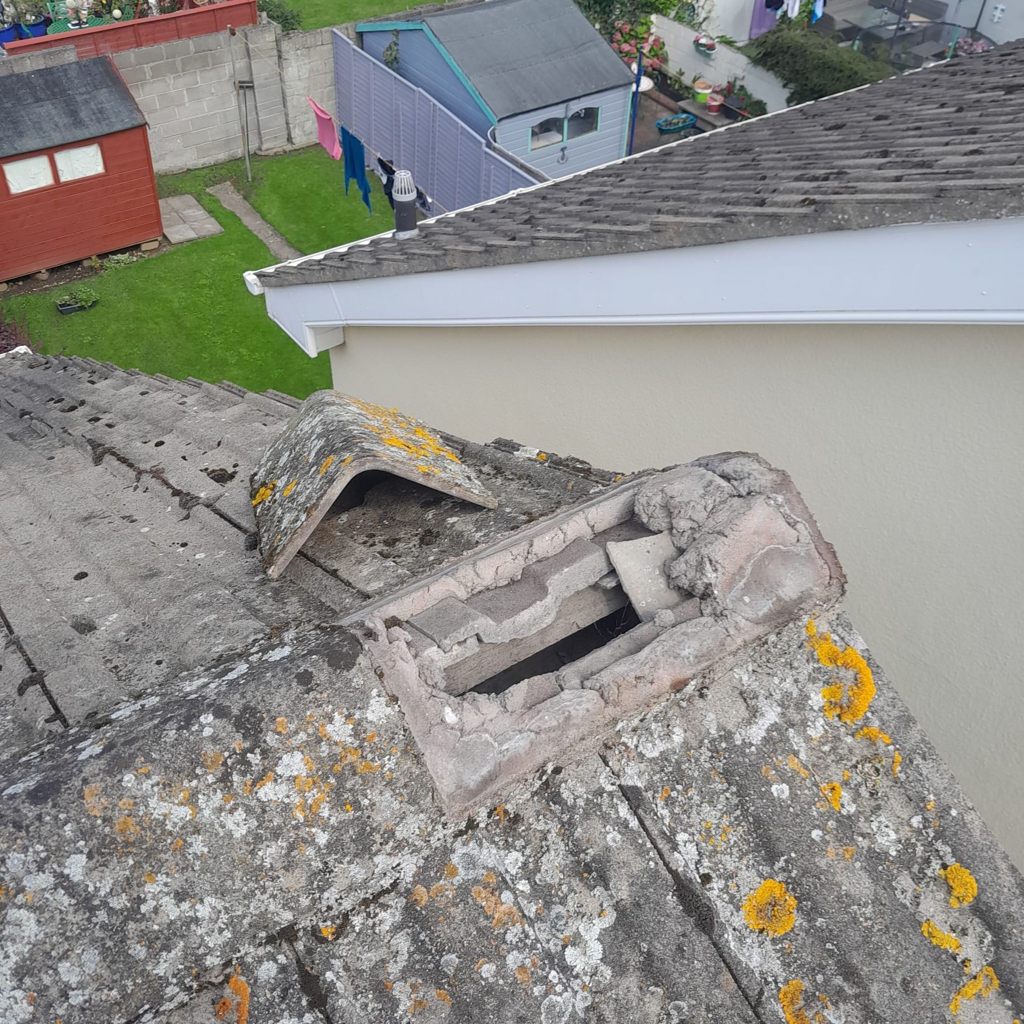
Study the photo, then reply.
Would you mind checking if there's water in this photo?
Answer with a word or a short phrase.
No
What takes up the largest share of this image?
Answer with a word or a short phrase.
buildings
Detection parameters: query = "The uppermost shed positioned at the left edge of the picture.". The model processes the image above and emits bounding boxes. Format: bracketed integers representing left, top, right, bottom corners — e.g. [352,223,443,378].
[0,53,166,281]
